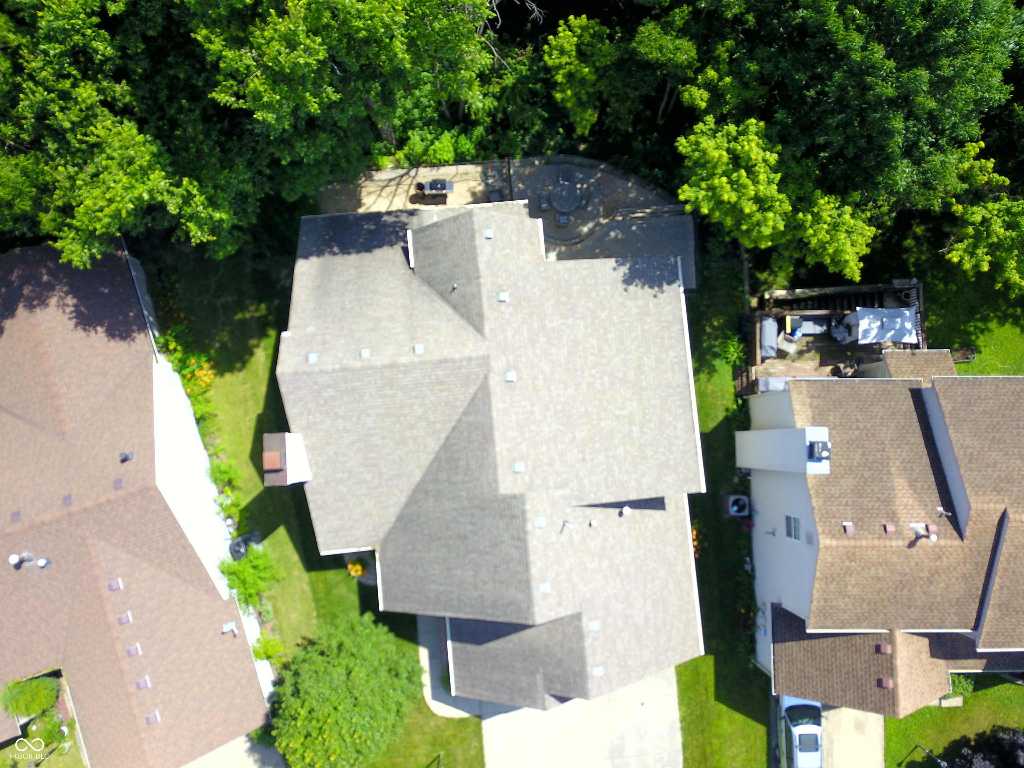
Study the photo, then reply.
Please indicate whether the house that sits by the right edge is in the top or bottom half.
bottom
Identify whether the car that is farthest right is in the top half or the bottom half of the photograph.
bottom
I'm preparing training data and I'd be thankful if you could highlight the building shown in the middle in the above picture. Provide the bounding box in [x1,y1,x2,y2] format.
[259,190,710,710]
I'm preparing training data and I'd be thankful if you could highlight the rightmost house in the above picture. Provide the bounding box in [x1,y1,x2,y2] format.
[735,346,1024,718]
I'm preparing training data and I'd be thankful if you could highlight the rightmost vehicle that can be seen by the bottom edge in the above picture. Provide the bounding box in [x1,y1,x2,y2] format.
[773,694,829,768]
